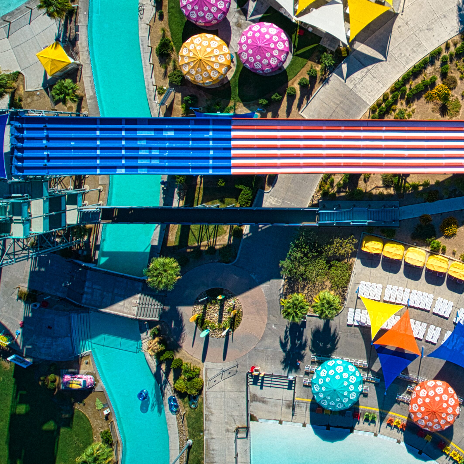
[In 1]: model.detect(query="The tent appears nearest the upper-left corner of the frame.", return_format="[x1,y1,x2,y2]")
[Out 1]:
[36,42,80,78]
